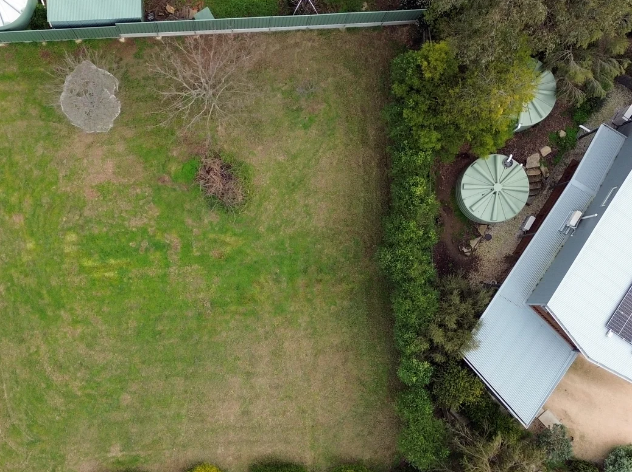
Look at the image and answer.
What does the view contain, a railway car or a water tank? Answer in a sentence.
I can see a water tank in this picture.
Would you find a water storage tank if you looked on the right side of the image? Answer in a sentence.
Yes, there is a water storage tank on the right side of the image.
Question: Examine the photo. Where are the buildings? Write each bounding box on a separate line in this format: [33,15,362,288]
[452,112,632,428]
[46,0,143,29]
